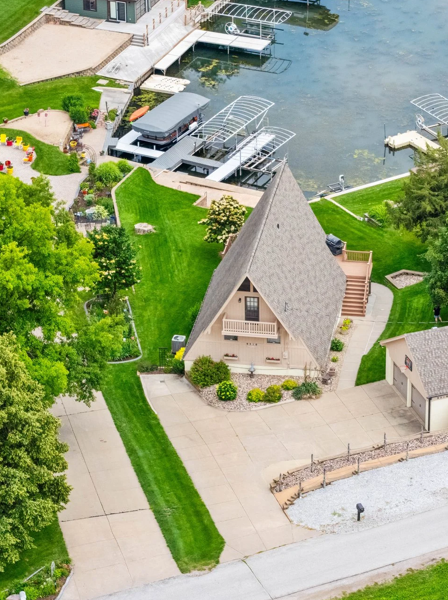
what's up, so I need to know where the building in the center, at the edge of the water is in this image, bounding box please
[183,160,345,376]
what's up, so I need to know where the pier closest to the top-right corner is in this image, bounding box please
[384,123,435,159]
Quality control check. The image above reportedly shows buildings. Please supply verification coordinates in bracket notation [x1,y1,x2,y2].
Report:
[64,0,164,23]
[183,160,345,376]
[376,322,448,431]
